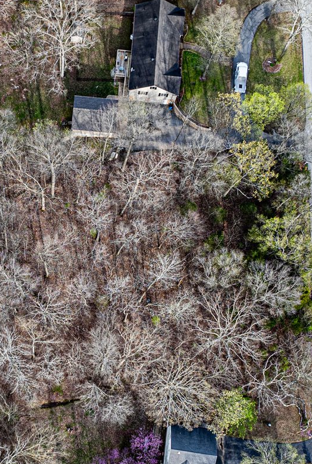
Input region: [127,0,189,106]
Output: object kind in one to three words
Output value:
house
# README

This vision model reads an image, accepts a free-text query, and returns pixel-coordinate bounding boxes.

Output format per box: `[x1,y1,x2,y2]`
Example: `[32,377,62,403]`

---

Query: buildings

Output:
[68,22,87,48]
[164,423,218,464]
[73,93,119,136]
[127,0,189,106]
